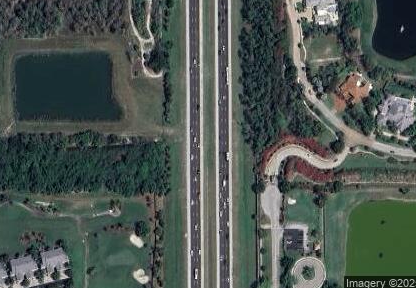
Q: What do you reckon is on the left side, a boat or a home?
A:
home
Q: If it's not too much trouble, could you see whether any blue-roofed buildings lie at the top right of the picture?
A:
No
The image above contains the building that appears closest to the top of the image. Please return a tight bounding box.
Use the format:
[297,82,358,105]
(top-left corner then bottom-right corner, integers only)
[305,0,335,24]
